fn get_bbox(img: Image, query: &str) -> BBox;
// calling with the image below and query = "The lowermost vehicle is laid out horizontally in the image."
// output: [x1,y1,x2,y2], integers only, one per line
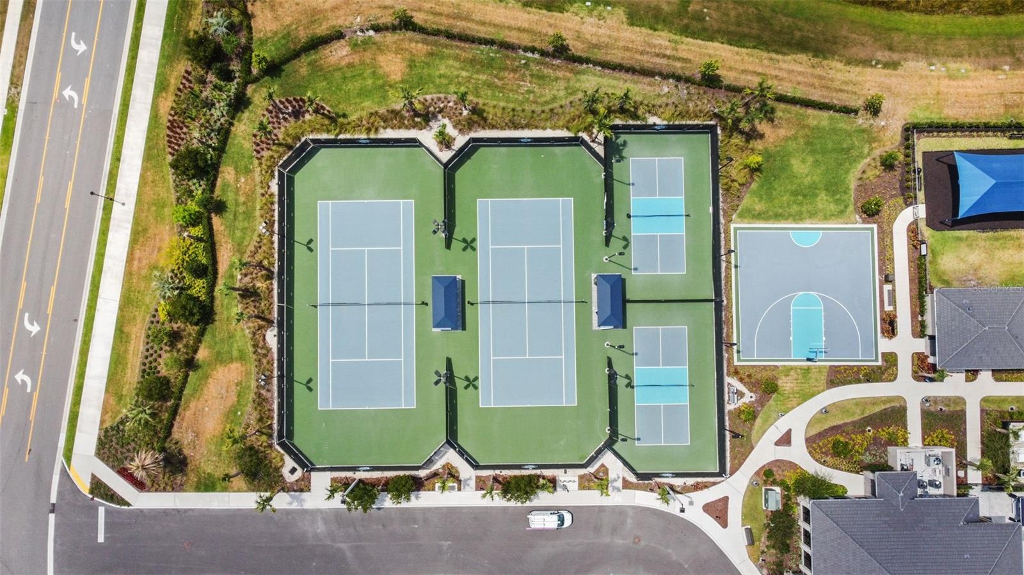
[528,510,573,532]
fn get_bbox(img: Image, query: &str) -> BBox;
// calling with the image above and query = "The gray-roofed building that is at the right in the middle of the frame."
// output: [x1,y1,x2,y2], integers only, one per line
[924,287,1024,370]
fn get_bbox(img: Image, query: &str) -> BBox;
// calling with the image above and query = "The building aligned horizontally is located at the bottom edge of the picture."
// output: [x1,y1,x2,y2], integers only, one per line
[799,468,1023,575]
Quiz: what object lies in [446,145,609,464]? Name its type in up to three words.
tennis court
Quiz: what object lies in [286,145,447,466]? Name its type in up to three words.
tennis court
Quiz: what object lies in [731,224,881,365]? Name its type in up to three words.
basketball court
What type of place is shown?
sports ground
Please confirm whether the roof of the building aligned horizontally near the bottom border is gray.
Yes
